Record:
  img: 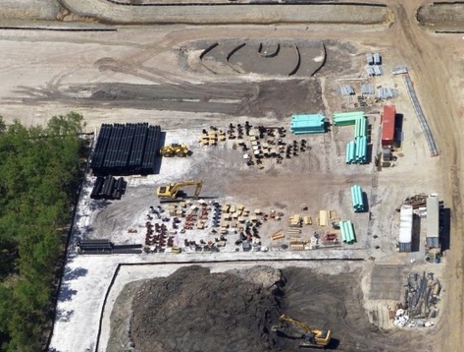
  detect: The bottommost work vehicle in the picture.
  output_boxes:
[269,316,331,348]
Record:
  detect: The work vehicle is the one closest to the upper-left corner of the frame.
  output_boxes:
[156,137,190,157]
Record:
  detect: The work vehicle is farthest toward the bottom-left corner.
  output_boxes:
[157,179,205,204]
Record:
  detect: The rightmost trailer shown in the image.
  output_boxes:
[426,190,440,247]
